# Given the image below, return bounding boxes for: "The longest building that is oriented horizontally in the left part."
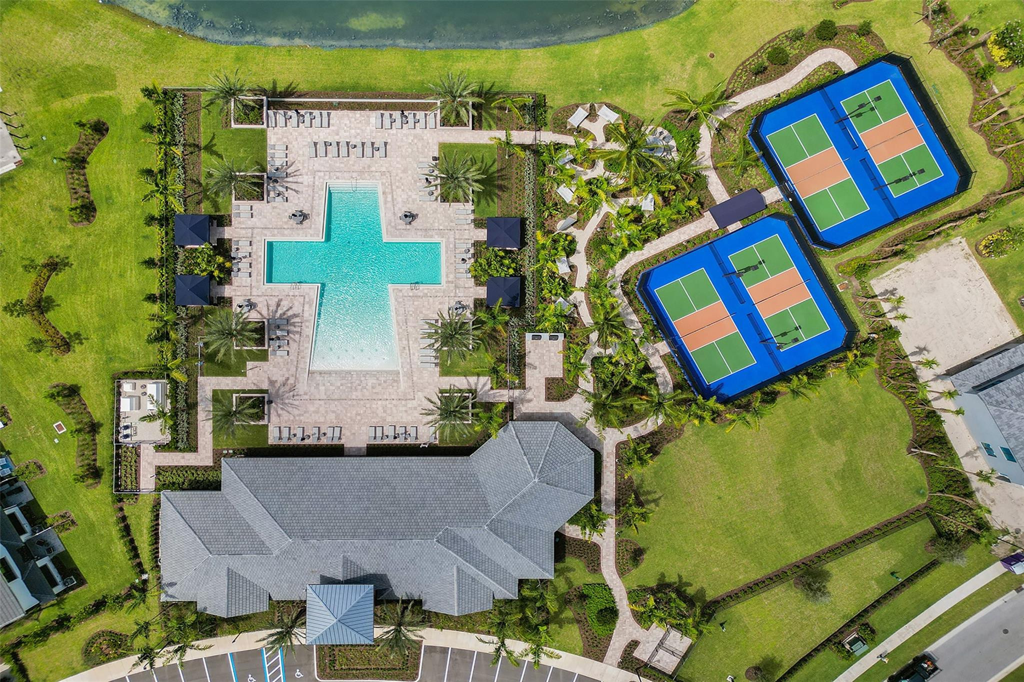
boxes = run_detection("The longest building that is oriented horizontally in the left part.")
[160,422,594,618]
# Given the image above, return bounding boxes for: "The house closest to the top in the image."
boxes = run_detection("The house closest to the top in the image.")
[948,342,1024,489]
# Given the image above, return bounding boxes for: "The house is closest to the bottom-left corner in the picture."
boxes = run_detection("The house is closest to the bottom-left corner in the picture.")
[0,483,65,625]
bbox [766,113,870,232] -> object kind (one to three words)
sports court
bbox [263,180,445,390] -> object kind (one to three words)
swimming pool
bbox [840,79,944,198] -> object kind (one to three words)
sports court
